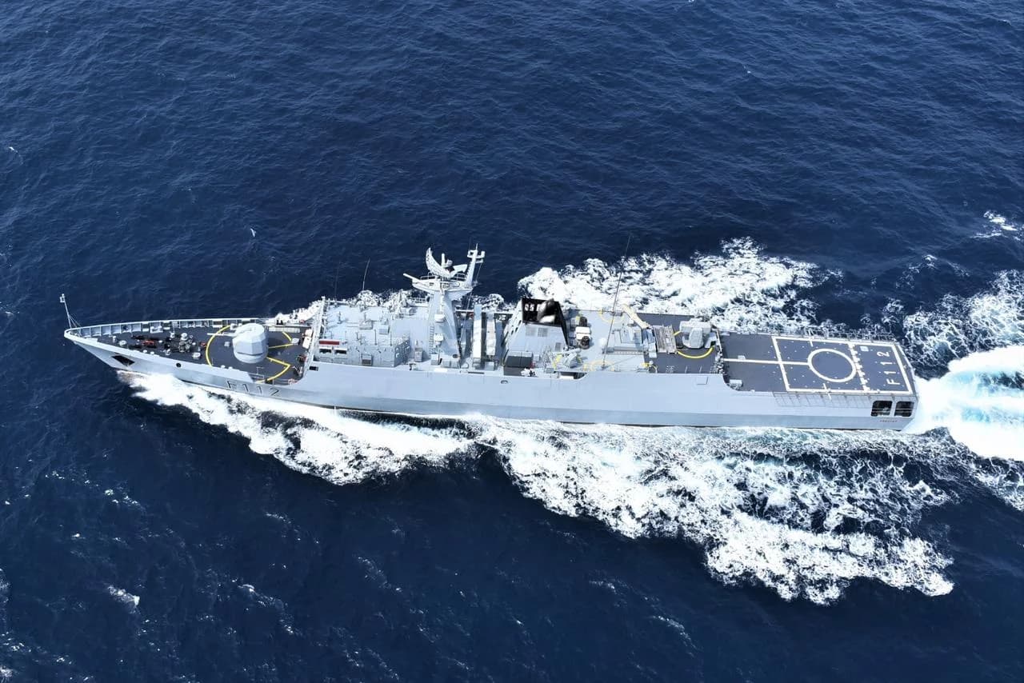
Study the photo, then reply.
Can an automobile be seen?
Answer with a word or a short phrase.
No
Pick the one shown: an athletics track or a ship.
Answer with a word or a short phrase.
ship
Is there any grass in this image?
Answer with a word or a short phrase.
No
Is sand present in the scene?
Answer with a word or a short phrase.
No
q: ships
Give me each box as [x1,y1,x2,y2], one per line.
[60,234,918,428]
